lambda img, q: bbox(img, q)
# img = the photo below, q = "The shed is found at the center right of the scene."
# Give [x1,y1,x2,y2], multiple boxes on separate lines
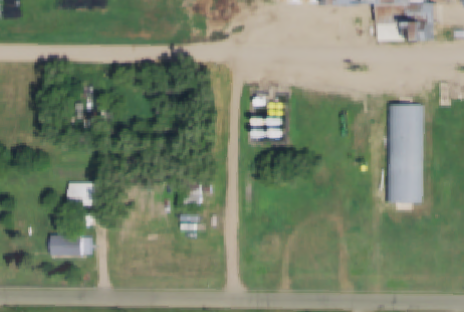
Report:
[388,103,426,202]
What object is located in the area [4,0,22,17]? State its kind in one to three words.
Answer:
house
